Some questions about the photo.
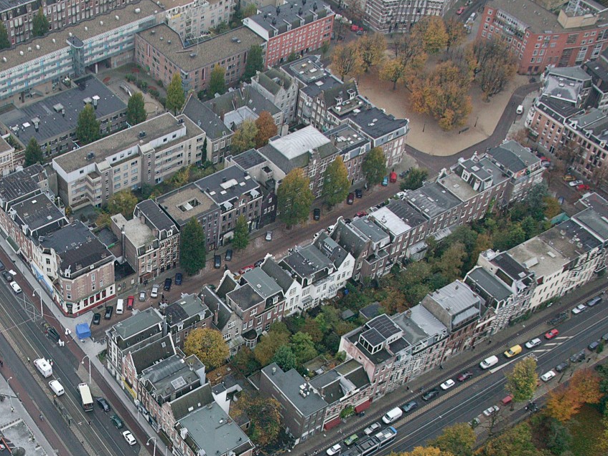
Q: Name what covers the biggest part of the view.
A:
buildings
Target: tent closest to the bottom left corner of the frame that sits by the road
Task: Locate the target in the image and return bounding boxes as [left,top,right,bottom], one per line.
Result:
[71,323,95,345]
